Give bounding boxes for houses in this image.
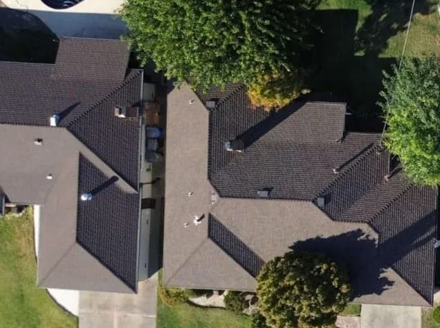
[162,66,440,307]
[0,38,155,294]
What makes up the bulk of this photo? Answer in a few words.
buildings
